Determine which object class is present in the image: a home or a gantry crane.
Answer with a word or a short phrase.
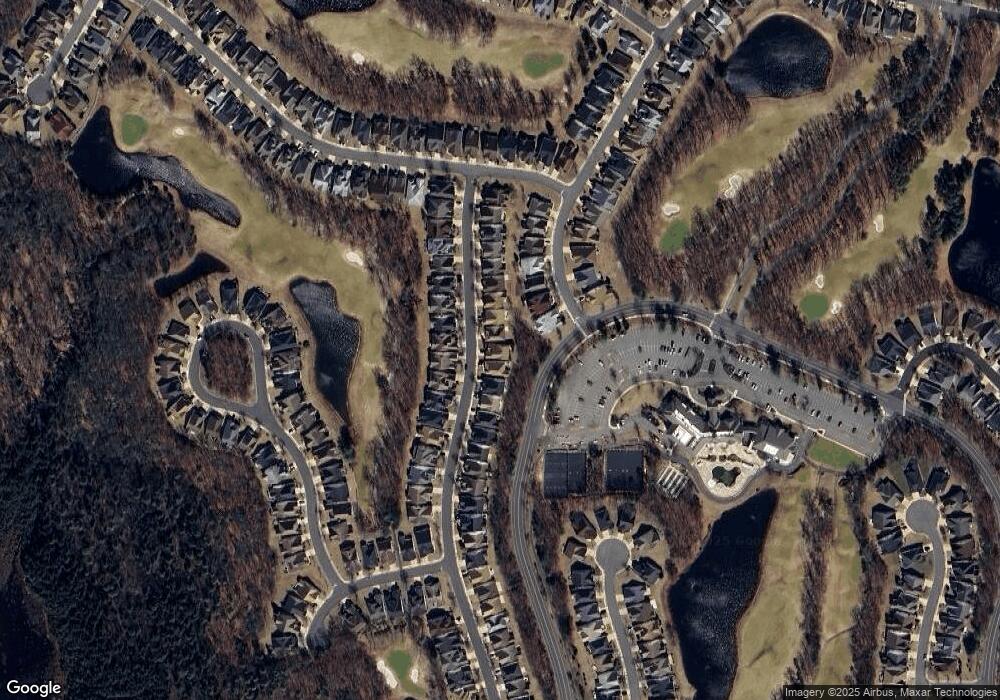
home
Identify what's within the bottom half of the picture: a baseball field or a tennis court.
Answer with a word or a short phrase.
tennis court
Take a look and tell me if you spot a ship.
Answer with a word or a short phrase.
No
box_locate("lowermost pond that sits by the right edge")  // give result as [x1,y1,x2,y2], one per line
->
[948,157,1000,307]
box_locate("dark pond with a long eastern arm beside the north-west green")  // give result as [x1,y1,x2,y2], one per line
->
[68,105,241,227]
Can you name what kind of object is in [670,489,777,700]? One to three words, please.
pond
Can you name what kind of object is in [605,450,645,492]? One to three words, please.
tennis court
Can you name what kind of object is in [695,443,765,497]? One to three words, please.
swimming pool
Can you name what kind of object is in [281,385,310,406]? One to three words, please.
house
